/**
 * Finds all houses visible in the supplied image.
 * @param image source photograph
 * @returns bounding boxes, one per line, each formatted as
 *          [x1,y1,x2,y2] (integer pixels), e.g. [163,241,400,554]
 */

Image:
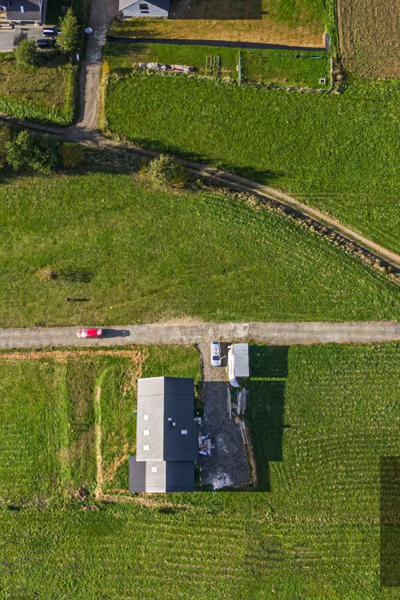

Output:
[120,0,187,26]
[128,375,199,492]
[0,0,55,38]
